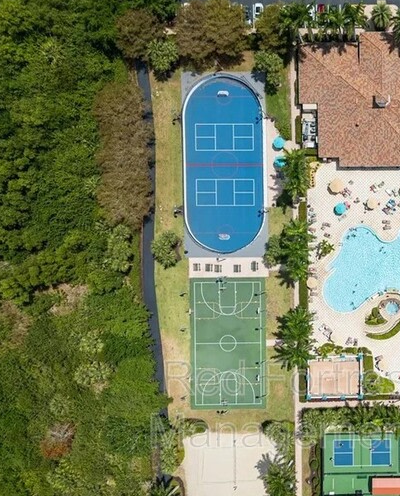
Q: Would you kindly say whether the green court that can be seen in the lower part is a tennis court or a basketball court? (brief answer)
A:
basketball court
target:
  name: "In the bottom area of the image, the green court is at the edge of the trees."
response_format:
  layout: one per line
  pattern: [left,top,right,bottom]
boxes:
[190,277,266,409]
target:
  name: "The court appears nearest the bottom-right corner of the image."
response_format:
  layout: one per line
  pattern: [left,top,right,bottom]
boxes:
[334,437,392,469]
